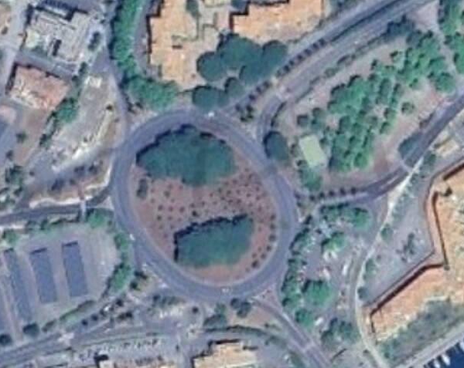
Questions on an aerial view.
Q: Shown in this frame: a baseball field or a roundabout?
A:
roundabout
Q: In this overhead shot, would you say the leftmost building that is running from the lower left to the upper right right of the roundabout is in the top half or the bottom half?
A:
bottom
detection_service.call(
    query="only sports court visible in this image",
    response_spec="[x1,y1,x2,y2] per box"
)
[300,135,327,167]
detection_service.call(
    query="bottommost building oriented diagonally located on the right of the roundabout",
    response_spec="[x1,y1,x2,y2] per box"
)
[364,257,447,341]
